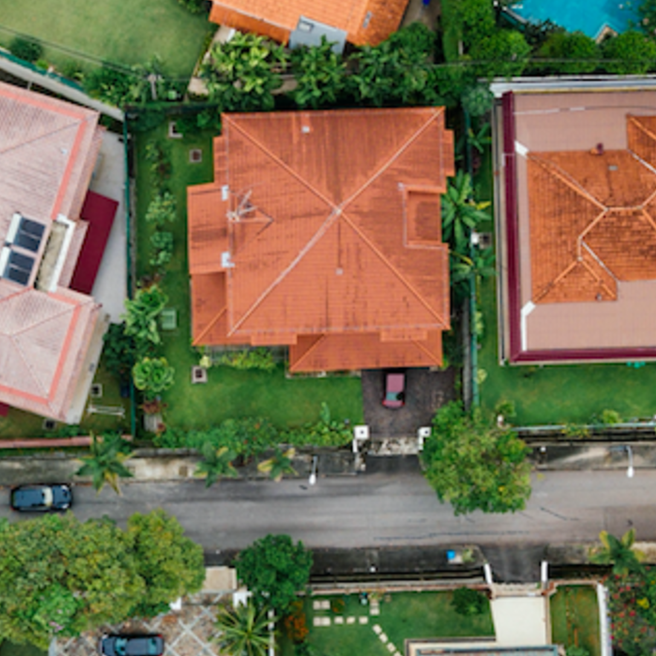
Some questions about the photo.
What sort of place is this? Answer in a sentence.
The area seen from above is a residential area.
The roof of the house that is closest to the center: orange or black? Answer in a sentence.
From above, the roof of the house that is closest to the center appears orange.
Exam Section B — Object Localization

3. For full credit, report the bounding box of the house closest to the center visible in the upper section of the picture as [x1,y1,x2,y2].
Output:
[187,105,455,372]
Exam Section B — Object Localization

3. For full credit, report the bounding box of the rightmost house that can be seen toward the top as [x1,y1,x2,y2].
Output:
[479,76,656,368]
